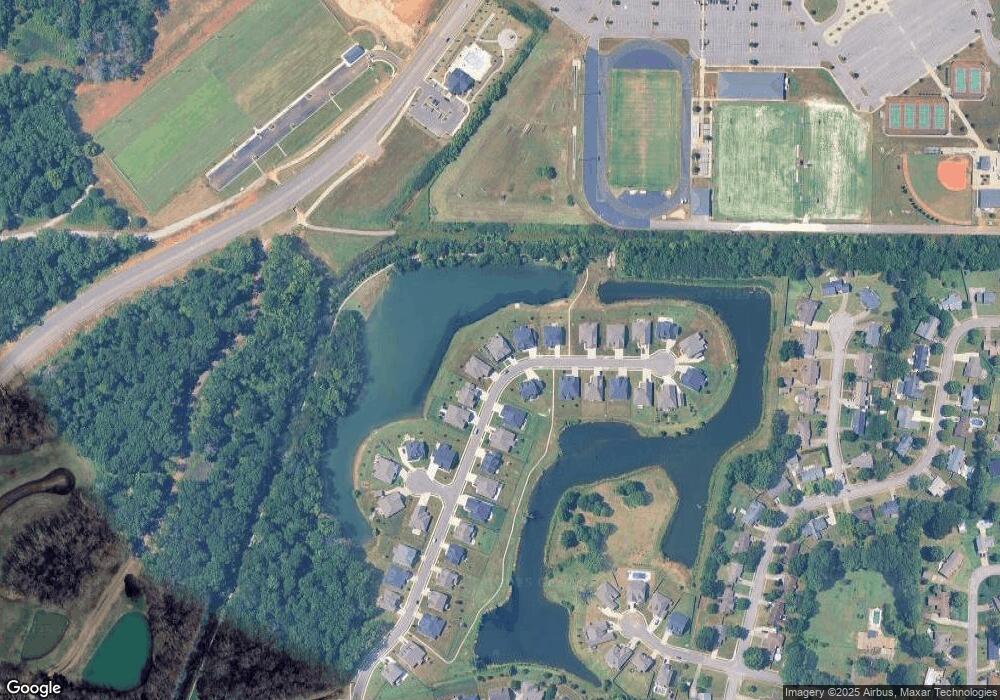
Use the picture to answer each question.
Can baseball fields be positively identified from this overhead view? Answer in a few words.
Yes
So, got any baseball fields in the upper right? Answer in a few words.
Yes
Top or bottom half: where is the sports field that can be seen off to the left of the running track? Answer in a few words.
top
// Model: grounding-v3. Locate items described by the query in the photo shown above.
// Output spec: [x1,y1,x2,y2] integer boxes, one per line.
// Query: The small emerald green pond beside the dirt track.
[82,611,151,690]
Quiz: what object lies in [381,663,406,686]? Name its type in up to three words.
house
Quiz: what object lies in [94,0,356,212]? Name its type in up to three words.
sports field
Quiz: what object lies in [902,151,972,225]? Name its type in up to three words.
baseball field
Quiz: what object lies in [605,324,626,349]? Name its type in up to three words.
house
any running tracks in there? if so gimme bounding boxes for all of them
[584,39,692,228]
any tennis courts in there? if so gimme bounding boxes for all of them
[934,103,945,128]
[955,68,967,93]
[890,103,900,128]
[970,68,980,93]
[904,103,915,128]
[919,103,930,128]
